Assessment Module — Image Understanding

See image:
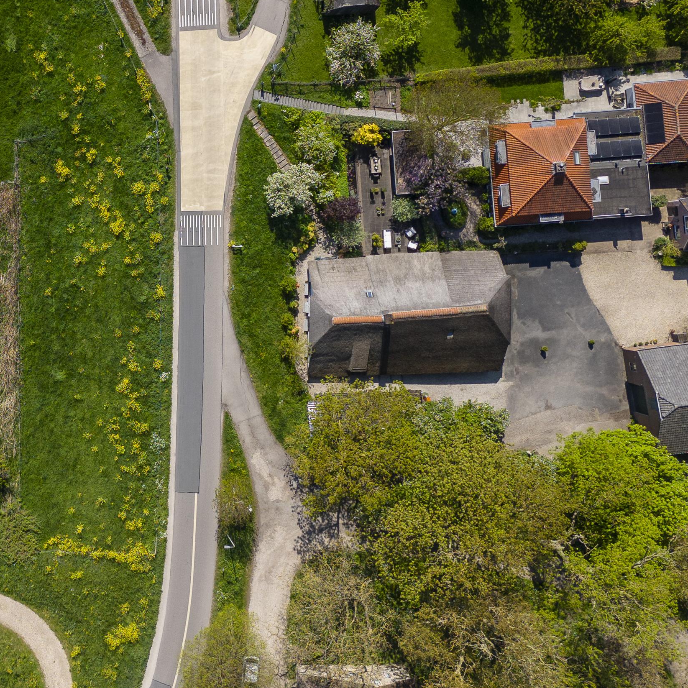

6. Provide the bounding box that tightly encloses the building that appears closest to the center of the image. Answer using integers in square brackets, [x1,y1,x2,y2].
[306,250,510,379]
